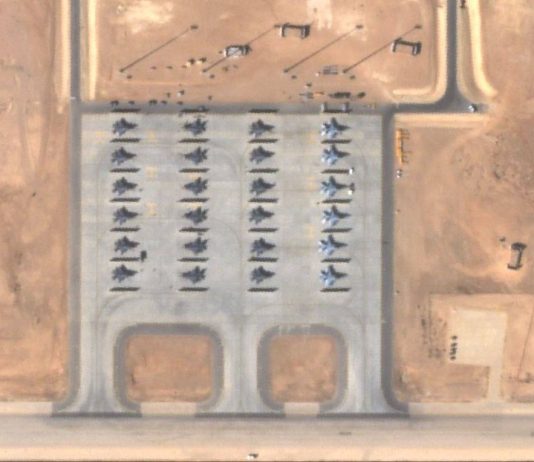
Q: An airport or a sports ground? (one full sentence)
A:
This image shows an airport.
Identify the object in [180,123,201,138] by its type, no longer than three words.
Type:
airplane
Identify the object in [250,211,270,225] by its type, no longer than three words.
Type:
airplane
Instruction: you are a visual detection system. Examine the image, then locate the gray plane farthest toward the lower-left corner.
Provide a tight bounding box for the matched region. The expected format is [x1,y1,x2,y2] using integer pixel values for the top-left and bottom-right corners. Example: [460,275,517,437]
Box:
[113,270,134,285]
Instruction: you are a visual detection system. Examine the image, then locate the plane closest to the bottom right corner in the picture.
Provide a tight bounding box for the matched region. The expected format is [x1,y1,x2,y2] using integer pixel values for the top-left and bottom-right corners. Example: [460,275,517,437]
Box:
[318,270,341,287]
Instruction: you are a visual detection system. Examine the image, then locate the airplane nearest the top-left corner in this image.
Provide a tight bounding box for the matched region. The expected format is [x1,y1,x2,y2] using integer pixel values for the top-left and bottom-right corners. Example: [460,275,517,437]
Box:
[112,121,132,137]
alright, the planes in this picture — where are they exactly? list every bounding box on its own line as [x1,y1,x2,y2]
[318,270,341,287]
[318,241,342,257]
[180,183,201,198]
[180,123,201,138]
[250,211,270,225]
[251,242,271,257]
[319,182,342,199]
[250,271,271,286]
[179,271,200,286]
[111,152,132,167]
[114,212,135,226]
[250,124,270,139]
[114,241,135,257]
[250,150,271,165]
[321,211,345,227]
[112,121,132,137]
[180,212,201,226]
[321,124,344,140]
[180,151,201,166]
[250,182,271,197]
[113,270,134,285]
[321,149,344,166]
[112,183,133,198]
[181,242,201,257]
